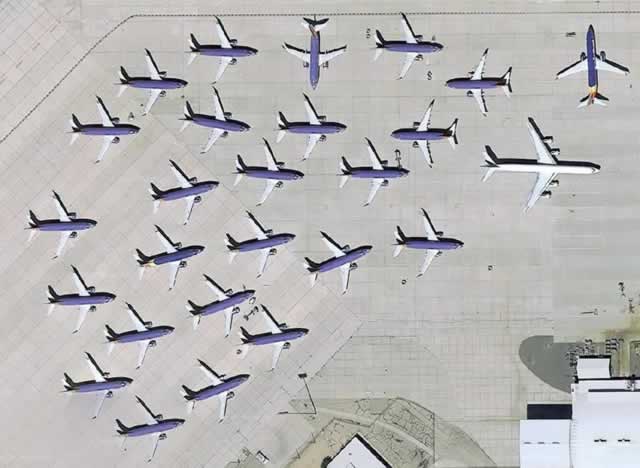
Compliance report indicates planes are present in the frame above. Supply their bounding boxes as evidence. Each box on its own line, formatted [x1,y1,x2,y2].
[301,235,372,294]
[271,95,346,158]
[184,278,254,338]
[479,121,599,215]
[179,362,249,422]
[236,309,308,371]
[232,139,304,202]
[222,216,295,277]
[367,14,442,78]
[332,139,408,202]
[103,307,174,368]
[552,26,628,109]
[63,356,133,417]
[46,269,116,331]
[446,53,514,117]
[184,19,258,82]
[114,52,188,114]
[113,400,185,461]
[24,194,97,256]
[387,211,462,274]
[132,228,204,289]
[148,164,219,225]
[178,89,250,149]
[391,104,459,167]
[279,24,345,90]
[68,98,140,160]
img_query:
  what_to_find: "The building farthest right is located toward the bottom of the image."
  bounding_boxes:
[572,381,640,468]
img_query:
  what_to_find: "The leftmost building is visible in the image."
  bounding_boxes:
[327,437,386,468]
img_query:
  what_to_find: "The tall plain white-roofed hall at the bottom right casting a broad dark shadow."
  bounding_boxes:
[520,420,572,468]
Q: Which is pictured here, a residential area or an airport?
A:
airport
